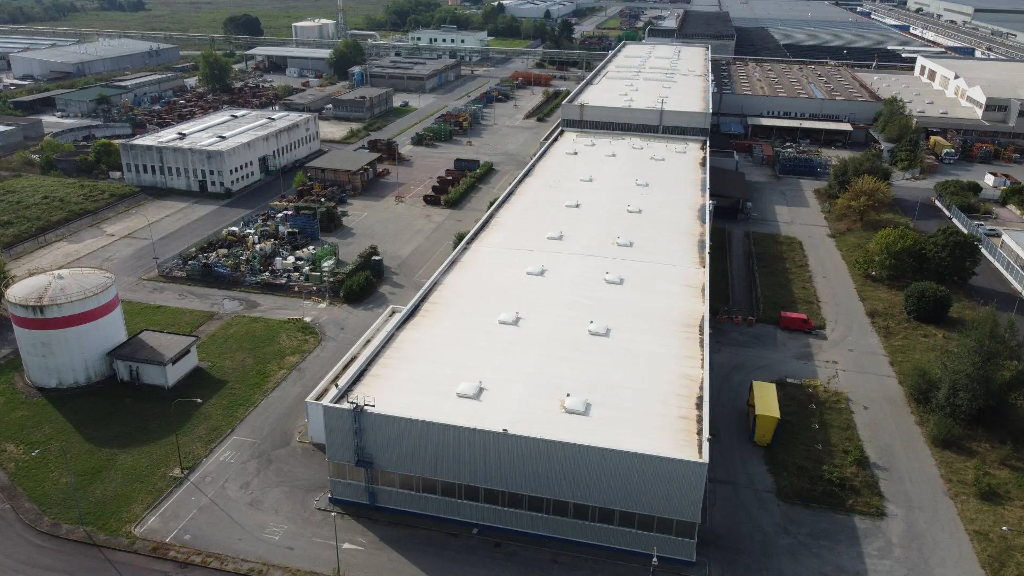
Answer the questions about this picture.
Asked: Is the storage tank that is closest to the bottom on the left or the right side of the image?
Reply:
left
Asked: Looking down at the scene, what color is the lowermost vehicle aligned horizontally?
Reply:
red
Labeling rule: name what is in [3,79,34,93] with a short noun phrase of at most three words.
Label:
shed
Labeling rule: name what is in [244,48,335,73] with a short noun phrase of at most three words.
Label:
building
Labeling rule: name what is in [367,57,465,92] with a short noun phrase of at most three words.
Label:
building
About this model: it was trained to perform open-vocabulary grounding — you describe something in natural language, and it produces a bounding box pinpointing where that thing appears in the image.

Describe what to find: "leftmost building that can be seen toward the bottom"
[109,329,202,387]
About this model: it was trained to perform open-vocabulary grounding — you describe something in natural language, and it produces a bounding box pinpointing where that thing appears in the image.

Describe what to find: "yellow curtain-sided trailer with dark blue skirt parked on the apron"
[750,381,781,440]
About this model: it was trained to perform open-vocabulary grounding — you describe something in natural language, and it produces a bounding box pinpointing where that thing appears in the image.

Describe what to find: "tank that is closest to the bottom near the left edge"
[0,260,130,395]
